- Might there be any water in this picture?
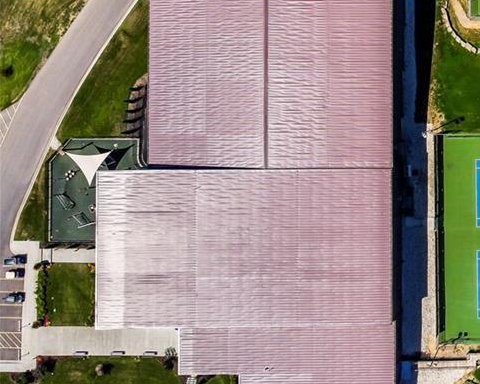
No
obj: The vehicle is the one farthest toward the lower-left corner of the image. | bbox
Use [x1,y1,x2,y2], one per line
[0,293,24,306]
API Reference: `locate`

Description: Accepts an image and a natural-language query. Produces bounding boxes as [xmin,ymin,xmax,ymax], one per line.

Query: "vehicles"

[1,268,25,280]
[1,255,25,267]
[0,293,24,306]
